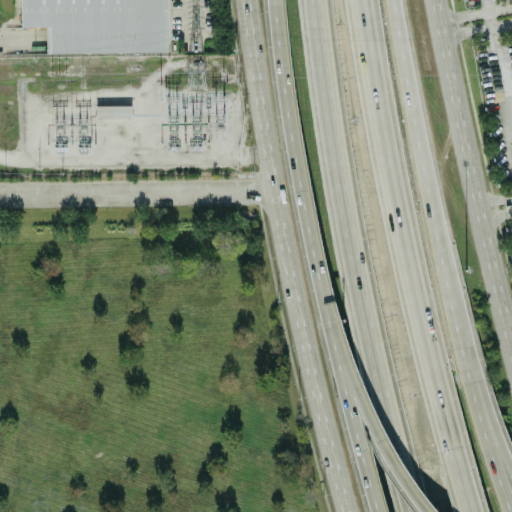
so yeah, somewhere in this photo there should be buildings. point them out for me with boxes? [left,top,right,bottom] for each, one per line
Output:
[96,106,134,119]
[22,0,170,54]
